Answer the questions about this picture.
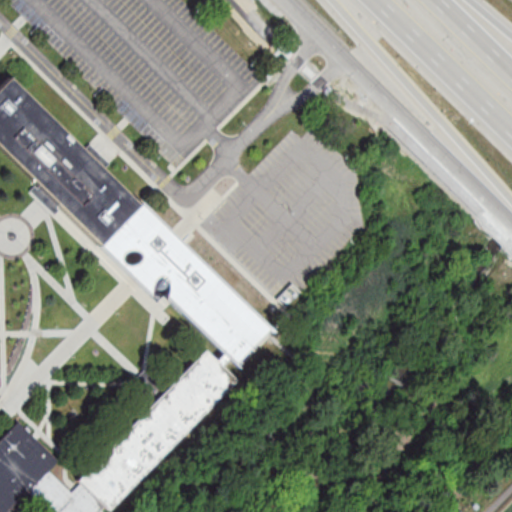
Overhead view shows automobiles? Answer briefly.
No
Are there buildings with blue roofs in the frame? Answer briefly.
No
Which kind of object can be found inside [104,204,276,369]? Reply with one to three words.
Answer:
building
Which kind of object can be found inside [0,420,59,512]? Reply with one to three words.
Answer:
building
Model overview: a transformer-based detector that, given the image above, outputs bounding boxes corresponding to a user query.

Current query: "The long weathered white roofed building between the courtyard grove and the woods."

[80,350,230,512]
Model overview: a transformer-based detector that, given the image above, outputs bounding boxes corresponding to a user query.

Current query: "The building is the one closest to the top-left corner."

[0,78,143,244]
